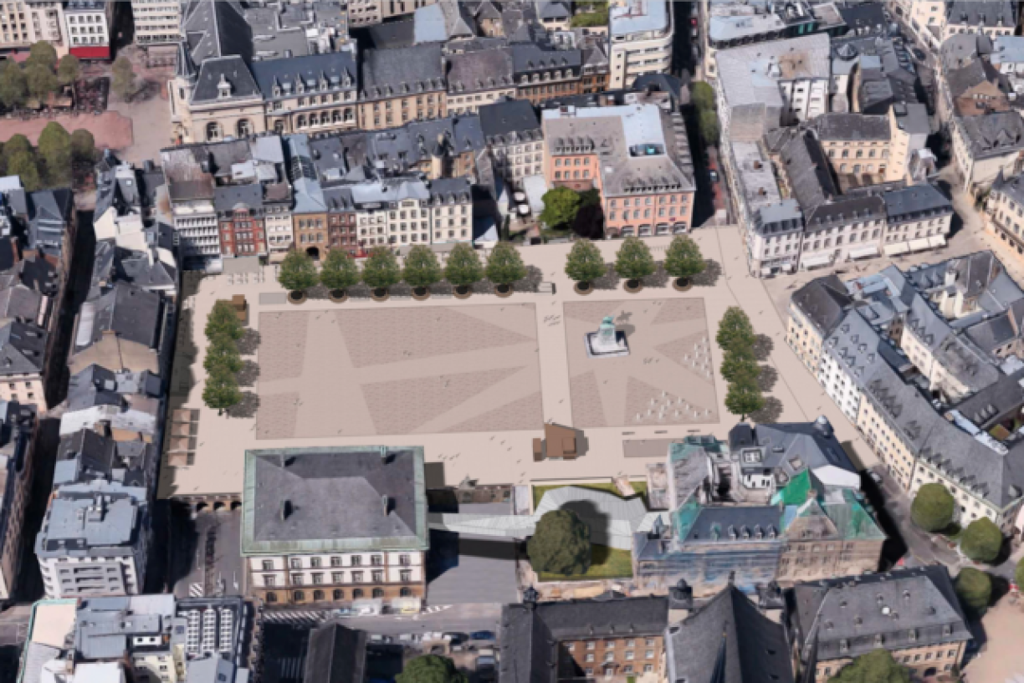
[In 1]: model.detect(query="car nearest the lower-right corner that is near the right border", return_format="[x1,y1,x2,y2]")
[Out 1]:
[1003,578,1018,590]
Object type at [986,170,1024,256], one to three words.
house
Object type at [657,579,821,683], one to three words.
building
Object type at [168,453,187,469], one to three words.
umbrella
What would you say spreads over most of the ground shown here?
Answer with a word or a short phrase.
buildings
